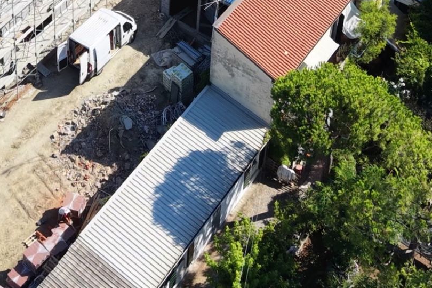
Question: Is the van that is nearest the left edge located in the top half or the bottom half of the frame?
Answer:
top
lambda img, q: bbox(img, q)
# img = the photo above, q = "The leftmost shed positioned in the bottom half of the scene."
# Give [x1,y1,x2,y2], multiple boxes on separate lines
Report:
[36,84,273,288]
